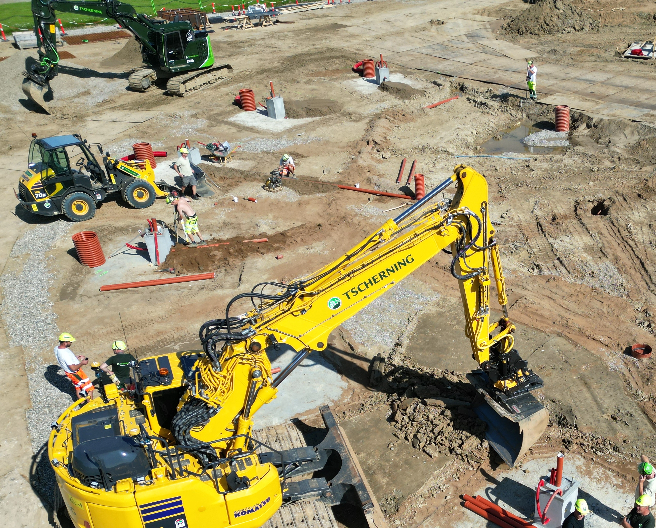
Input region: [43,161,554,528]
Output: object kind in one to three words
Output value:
work vehicle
